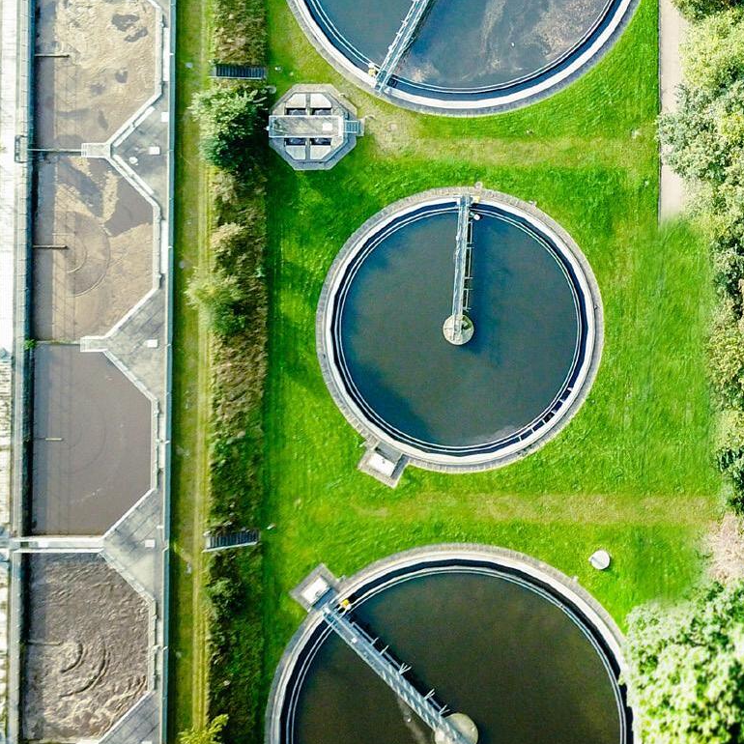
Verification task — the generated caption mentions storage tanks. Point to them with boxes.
[265,544,641,744]
[316,186,603,473]
[288,0,638,119]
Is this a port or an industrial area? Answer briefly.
industrial area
